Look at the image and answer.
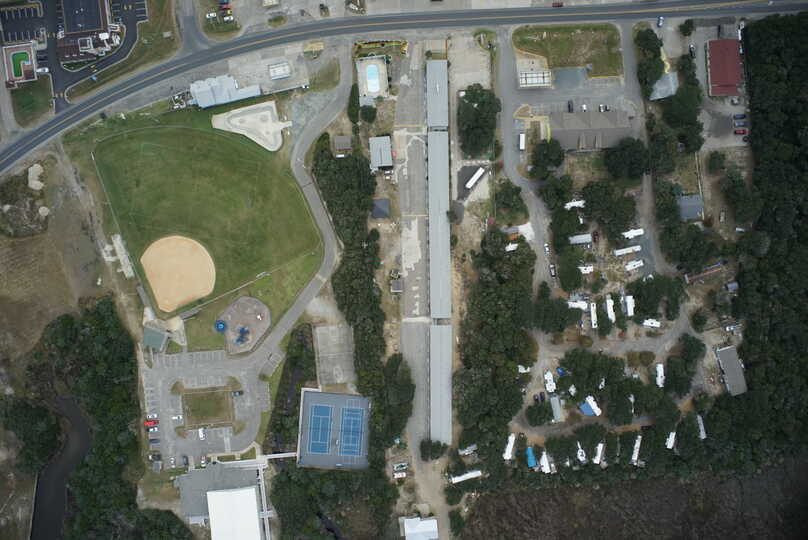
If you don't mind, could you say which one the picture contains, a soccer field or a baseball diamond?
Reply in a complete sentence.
Visible in the photo is a baseball diamond.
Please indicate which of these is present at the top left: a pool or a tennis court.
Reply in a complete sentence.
The feature located at the top left is a pool.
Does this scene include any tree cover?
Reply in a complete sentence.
Yes, tree cover shows up in the scene.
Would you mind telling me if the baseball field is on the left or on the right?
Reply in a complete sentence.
The baseball field sits on the left side.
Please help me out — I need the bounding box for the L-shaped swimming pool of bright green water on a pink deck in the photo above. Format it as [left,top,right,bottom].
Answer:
[4,43,36,81]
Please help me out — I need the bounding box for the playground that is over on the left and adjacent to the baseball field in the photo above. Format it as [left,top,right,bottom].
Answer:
[219,296,271,354]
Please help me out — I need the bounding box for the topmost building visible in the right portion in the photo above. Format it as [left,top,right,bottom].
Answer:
[708,39,741,86]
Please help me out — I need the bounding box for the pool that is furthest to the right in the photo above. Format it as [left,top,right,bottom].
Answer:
[357,57,389,96]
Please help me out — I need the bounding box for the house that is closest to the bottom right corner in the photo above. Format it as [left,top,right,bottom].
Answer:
[716,344,748,396]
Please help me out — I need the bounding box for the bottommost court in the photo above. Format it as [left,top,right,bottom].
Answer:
[298,391,370,470]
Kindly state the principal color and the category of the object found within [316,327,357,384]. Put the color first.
gray basketball court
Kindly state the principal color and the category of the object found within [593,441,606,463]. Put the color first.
white vehicle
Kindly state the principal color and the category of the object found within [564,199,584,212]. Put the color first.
white vehicle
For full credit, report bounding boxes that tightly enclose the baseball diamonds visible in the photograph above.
[94,127,320,319]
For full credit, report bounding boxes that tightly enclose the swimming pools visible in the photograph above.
[357,57,389,96]
[4,43,36,81]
